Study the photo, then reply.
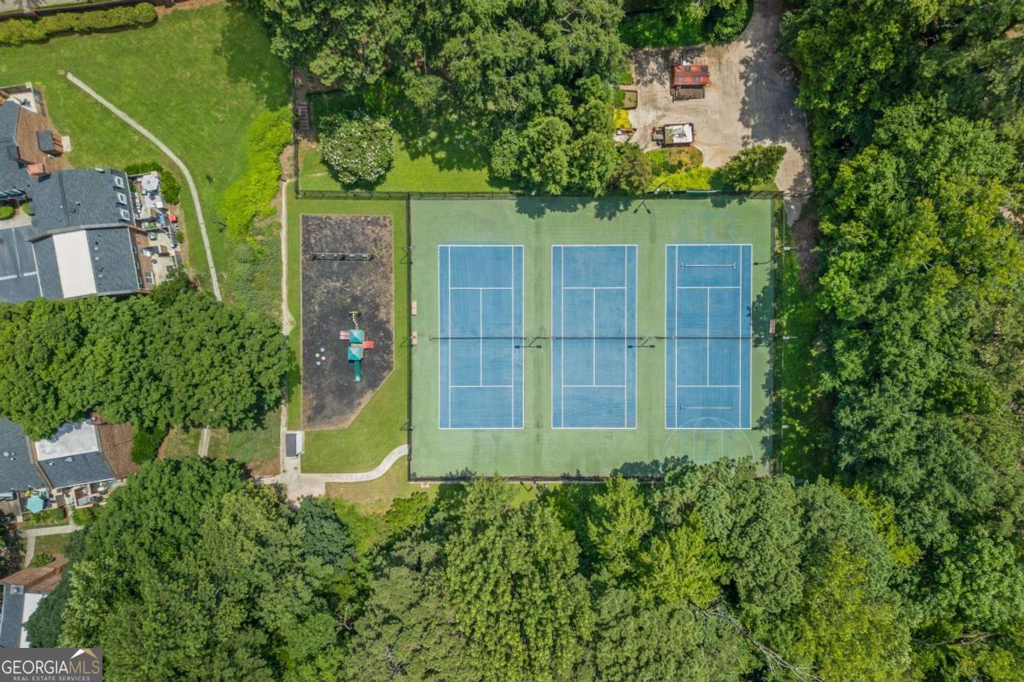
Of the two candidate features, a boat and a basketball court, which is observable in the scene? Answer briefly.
basketball court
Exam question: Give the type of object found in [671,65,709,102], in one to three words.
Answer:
shed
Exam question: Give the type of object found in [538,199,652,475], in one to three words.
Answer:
tennis court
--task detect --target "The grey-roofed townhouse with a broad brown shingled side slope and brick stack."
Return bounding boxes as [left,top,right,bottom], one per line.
[0,102,77,205]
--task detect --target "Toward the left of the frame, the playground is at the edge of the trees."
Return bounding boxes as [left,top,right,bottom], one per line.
[300,214,395,429]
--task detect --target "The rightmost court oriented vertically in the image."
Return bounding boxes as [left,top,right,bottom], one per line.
[652,199,773,475]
